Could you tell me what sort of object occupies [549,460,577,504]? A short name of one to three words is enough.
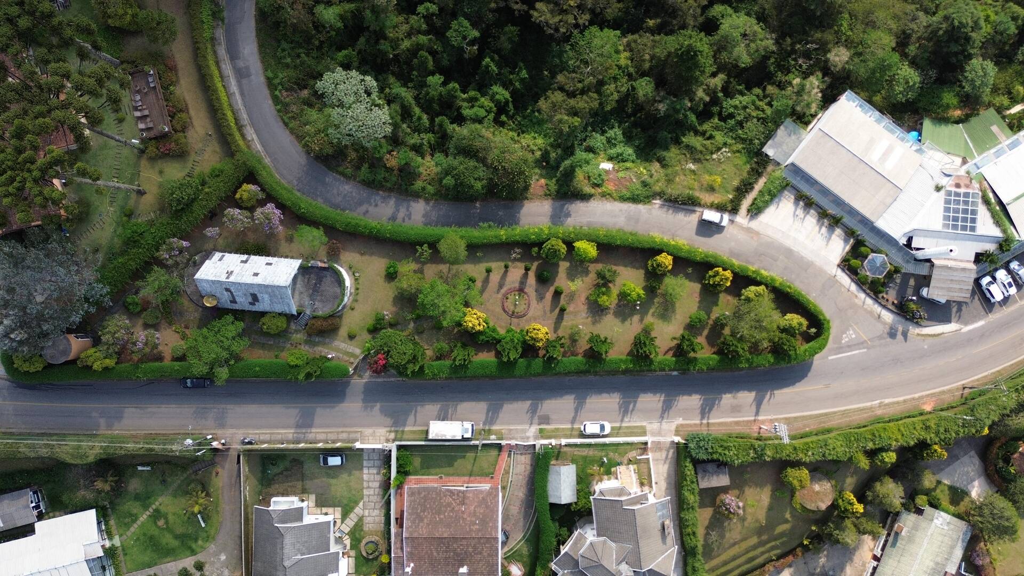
shed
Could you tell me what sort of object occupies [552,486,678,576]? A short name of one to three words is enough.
house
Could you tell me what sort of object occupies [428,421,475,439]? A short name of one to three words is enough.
vehicle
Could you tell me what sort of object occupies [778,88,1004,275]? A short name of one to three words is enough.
building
